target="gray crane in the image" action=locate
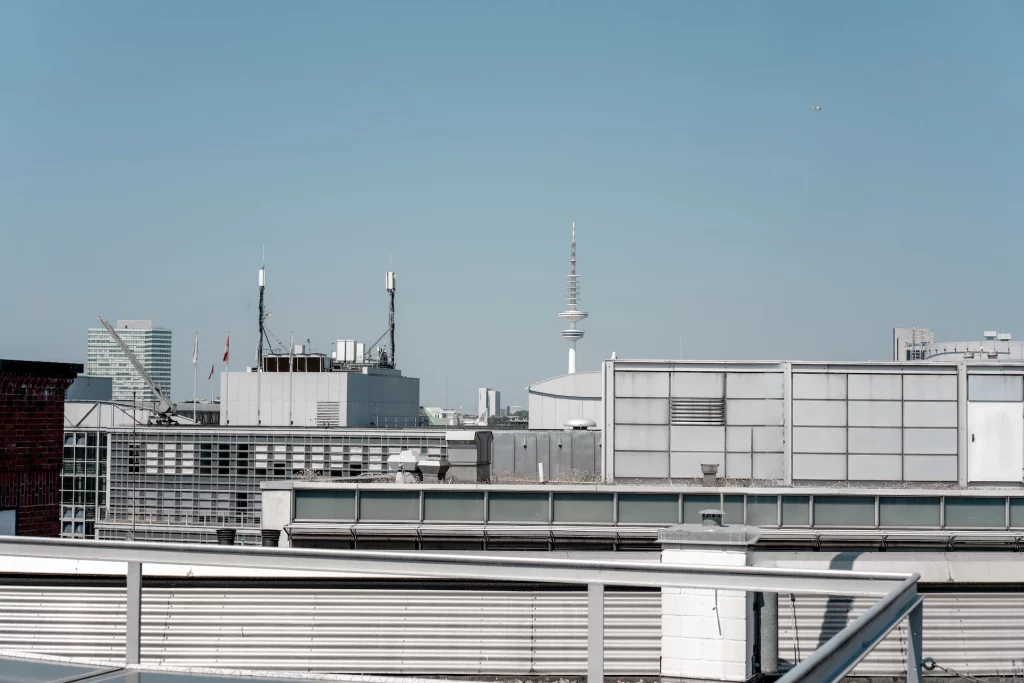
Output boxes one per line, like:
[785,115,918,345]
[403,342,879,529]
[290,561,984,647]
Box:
[97,318,179,427]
